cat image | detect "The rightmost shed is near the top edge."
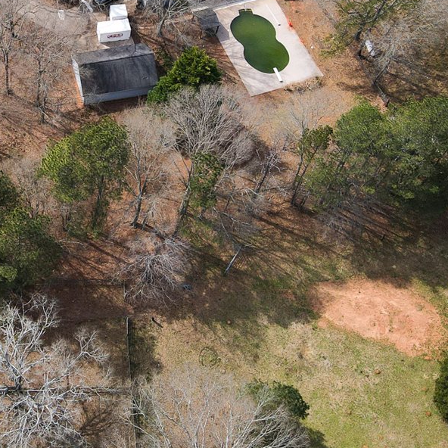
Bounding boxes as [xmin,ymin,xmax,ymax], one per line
[191,9,220,37]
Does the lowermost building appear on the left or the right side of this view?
left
